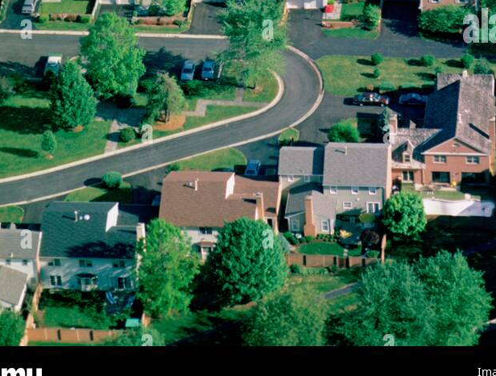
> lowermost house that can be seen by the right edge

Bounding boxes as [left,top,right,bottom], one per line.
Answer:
[388,71,496,184]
